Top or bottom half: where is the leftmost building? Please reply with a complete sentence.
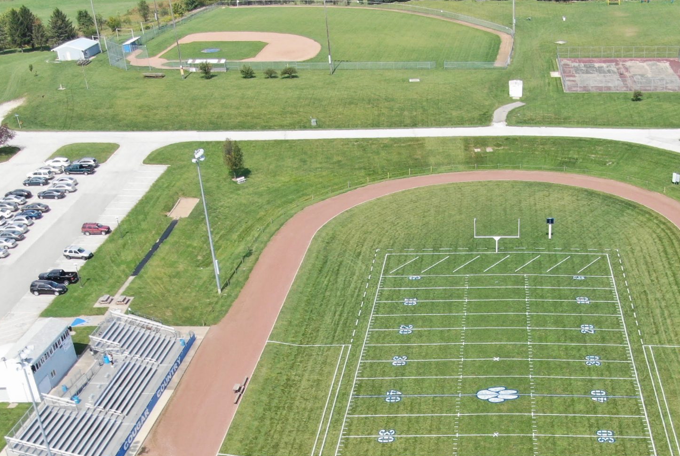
The leftmost building is in the top half of the image.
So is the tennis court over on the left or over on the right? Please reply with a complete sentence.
You can find the tennis court on the right side of the picture.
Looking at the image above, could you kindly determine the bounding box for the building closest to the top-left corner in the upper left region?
[54,37,99,60]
